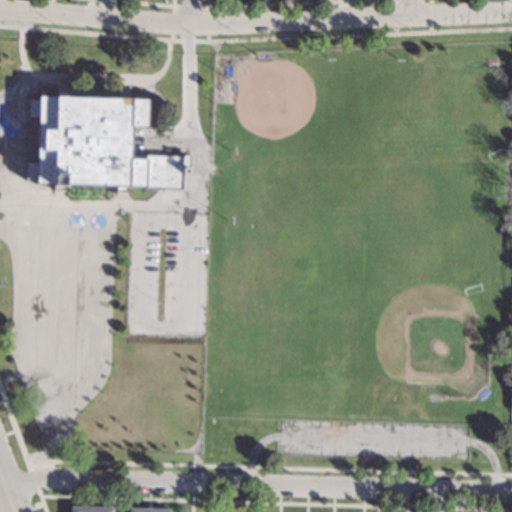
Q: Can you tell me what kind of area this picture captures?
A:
sports ground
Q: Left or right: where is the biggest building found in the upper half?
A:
left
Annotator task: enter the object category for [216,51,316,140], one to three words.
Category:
baseball field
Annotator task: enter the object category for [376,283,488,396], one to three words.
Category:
baseball field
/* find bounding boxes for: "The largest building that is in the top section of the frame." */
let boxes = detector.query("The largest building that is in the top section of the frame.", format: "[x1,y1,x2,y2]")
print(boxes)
[38,94,191,191]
